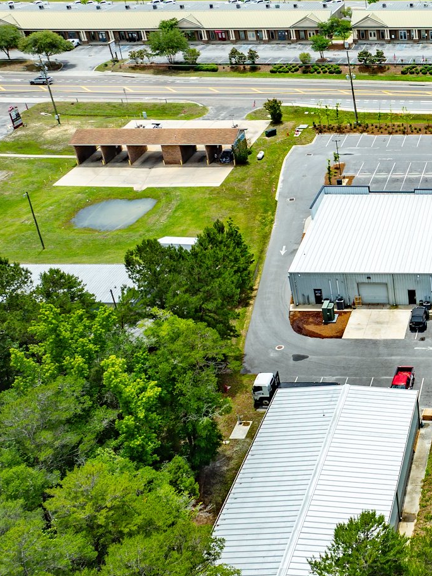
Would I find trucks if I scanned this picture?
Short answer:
Yes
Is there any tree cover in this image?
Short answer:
Yes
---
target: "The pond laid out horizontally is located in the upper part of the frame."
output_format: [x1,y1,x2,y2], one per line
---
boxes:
[71,198,157,231]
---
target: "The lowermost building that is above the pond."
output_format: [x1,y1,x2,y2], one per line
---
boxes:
[65,129,246,166]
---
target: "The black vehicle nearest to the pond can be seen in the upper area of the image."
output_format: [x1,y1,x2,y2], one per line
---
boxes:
[215,151,231,166]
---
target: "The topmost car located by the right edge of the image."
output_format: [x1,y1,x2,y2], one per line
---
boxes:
[408,304,428,332]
